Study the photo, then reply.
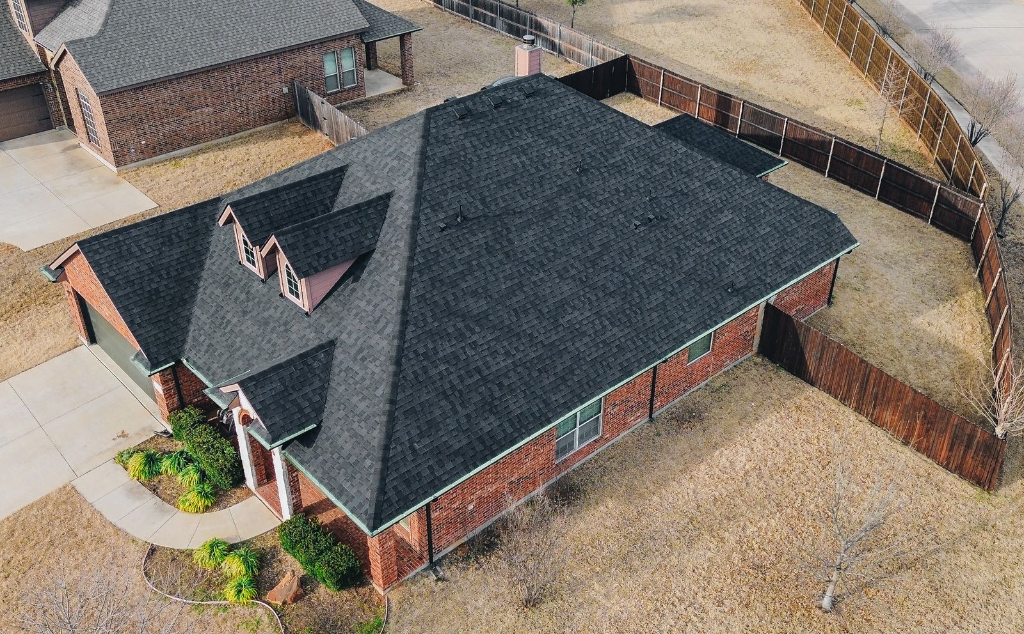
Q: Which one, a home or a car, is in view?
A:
home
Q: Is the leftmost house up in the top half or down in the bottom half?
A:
top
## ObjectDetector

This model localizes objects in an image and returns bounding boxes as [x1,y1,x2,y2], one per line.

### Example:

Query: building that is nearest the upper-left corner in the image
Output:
[0,0,422,171]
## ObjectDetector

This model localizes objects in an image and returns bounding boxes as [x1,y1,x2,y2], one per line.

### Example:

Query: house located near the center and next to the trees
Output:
[52,38,860,595]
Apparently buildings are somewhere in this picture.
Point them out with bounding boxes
[52,38,860,595]
[0,0,422,171]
